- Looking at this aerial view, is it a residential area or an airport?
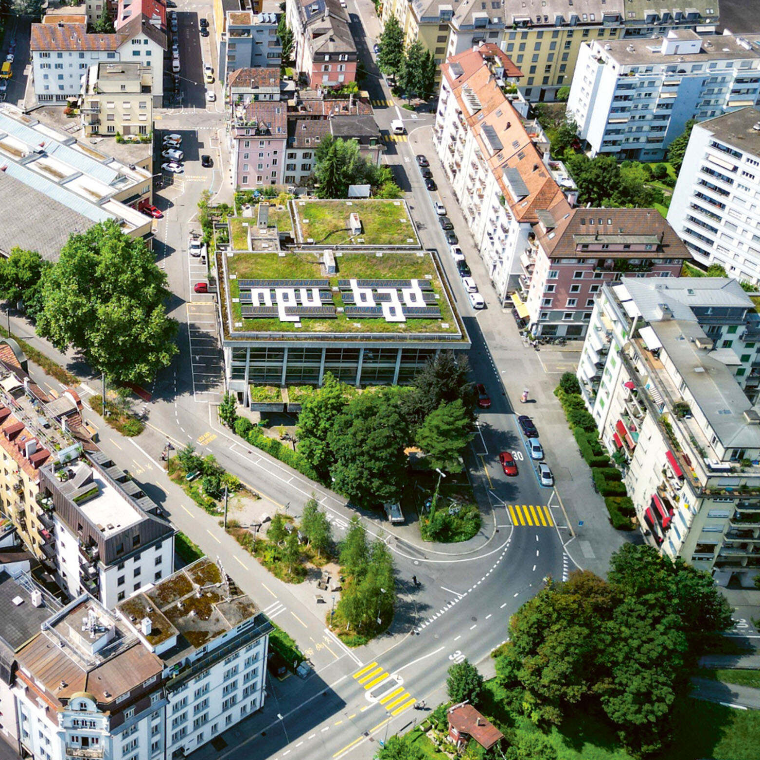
residential area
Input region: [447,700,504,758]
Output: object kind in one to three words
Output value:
building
